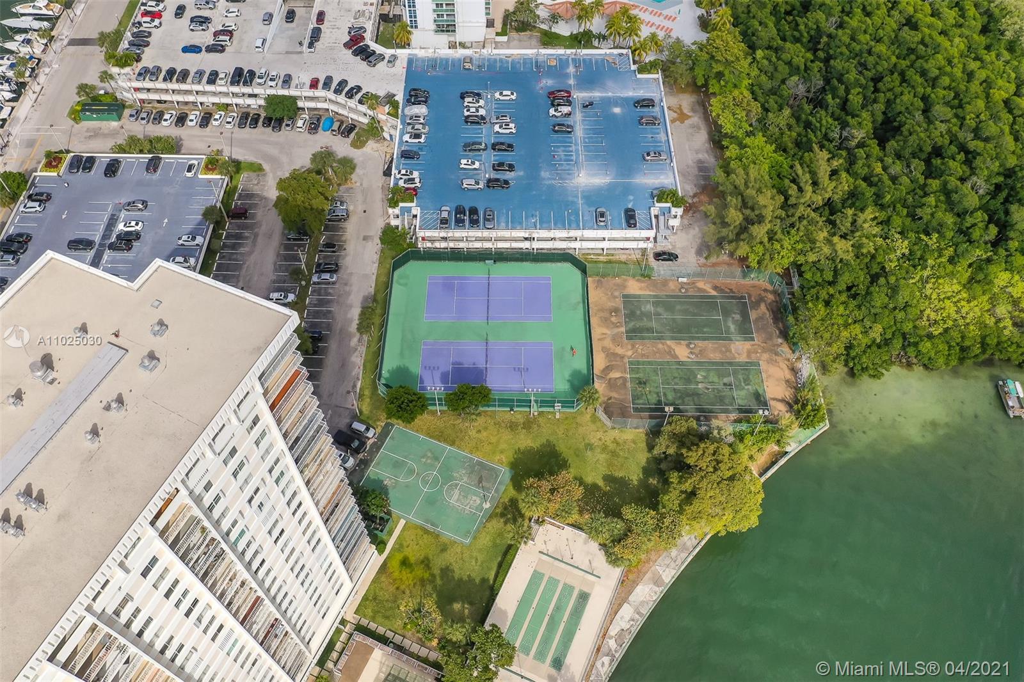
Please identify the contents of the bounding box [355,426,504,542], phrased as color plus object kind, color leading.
green basketball court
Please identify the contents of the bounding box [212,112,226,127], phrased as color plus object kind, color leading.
white car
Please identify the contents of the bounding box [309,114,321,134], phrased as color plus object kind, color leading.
gray vehicle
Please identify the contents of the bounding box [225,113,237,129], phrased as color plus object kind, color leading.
white vehicle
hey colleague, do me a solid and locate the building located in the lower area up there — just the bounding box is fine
[0,250,383,682]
